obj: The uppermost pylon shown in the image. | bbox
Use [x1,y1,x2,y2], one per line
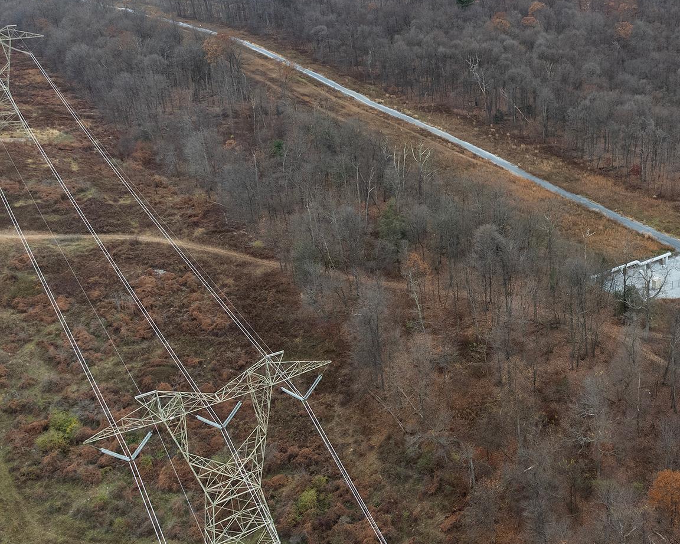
[0,26,41,140]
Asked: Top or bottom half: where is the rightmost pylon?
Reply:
bottom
